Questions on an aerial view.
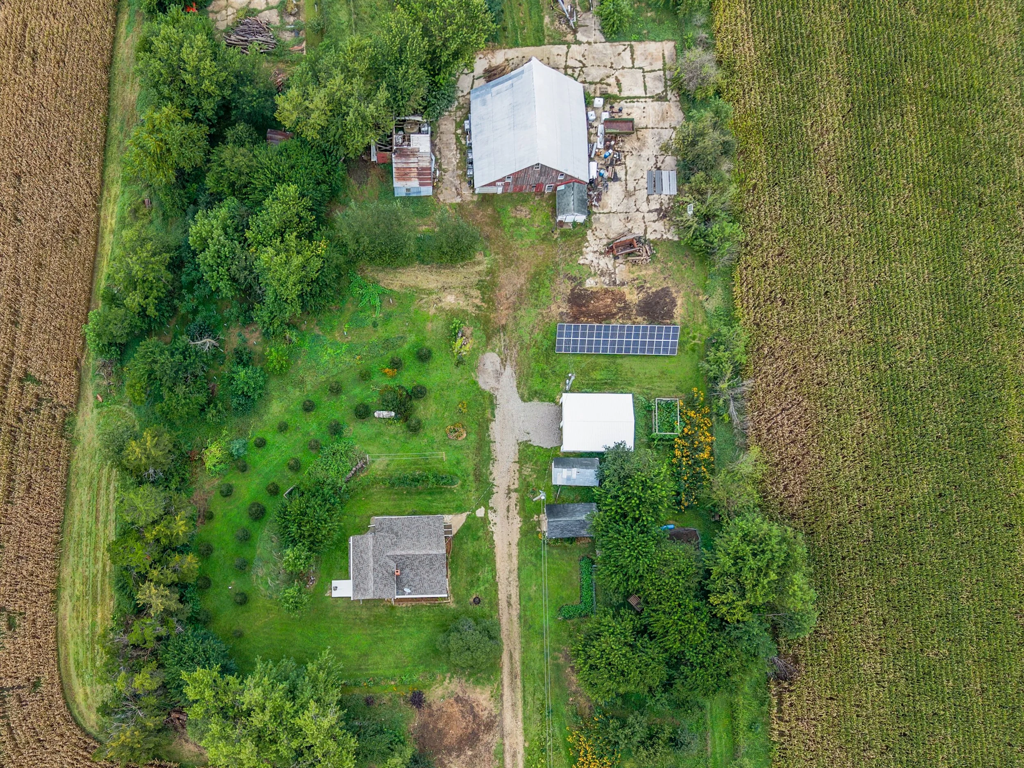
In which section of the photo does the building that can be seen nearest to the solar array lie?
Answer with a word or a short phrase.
center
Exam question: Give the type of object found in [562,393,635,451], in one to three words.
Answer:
building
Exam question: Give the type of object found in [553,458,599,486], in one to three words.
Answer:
shed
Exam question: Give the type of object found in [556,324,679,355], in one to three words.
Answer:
solar array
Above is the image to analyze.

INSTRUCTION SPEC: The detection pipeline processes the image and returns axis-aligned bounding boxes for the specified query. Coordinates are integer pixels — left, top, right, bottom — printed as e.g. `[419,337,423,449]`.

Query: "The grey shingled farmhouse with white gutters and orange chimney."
[332,515,452,604]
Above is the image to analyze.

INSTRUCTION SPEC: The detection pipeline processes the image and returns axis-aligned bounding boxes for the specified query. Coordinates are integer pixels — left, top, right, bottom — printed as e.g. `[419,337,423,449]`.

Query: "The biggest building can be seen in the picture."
[471,57,589,193]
